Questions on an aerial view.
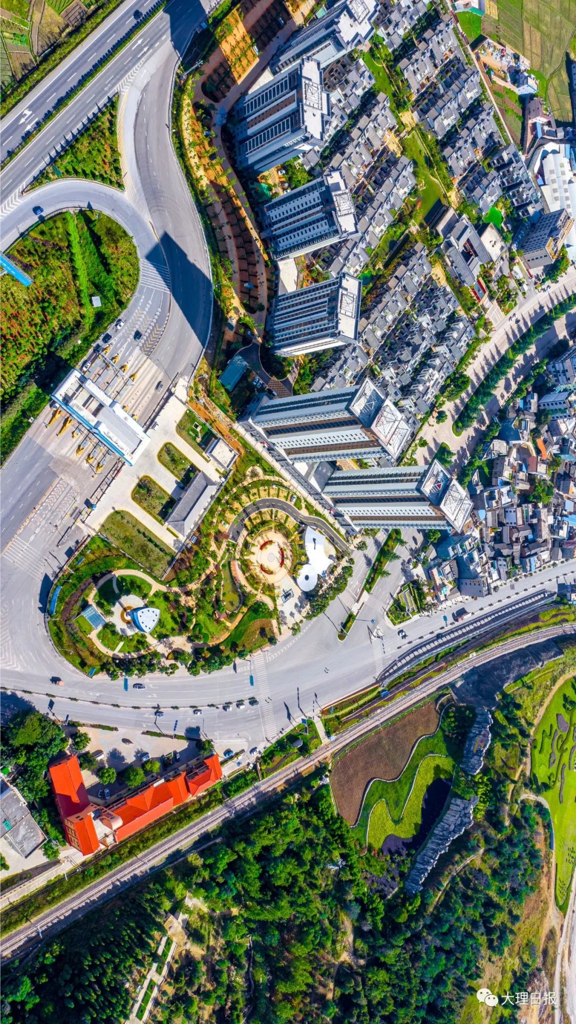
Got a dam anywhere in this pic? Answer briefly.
No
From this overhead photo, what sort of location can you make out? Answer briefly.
residential area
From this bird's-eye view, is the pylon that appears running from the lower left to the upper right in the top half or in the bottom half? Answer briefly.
top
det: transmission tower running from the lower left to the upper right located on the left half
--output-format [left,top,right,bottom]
[181,62,210,82]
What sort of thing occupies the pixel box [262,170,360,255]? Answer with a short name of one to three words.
building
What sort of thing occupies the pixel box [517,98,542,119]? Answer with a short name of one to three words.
house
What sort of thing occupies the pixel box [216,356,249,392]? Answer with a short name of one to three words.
shed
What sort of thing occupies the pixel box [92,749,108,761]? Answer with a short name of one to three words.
vehicle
